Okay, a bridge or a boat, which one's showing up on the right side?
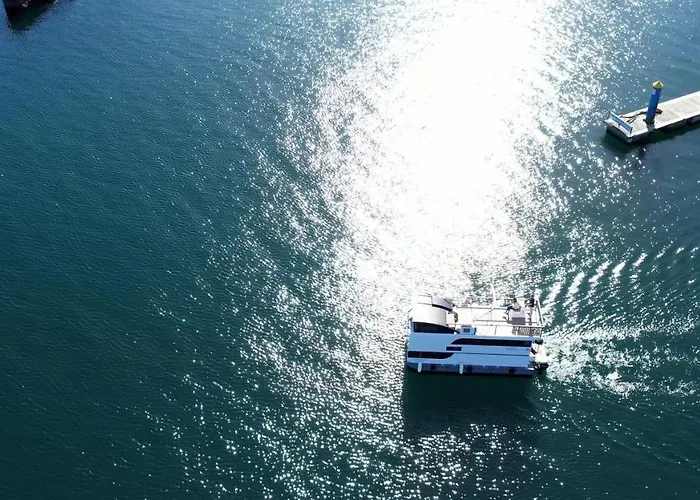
boat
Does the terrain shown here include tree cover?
No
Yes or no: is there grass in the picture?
No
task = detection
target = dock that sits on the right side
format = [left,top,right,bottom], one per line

[604,92,700,146]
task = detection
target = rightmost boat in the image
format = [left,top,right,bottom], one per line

[407,278,551,376]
